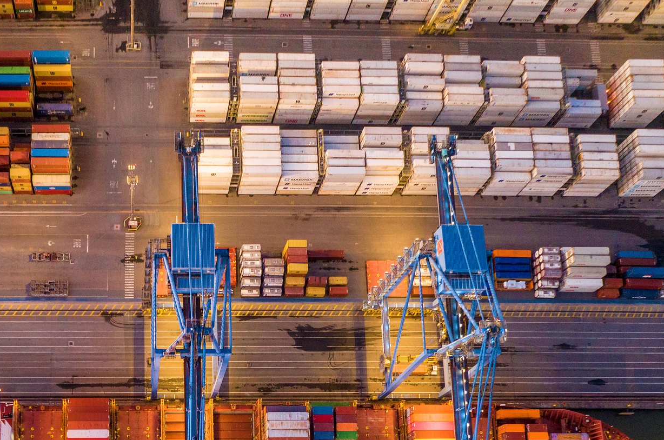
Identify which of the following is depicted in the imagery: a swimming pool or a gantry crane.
gantry crane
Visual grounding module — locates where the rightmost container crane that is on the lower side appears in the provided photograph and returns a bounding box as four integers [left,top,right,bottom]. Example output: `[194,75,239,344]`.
[356,133,504,440]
